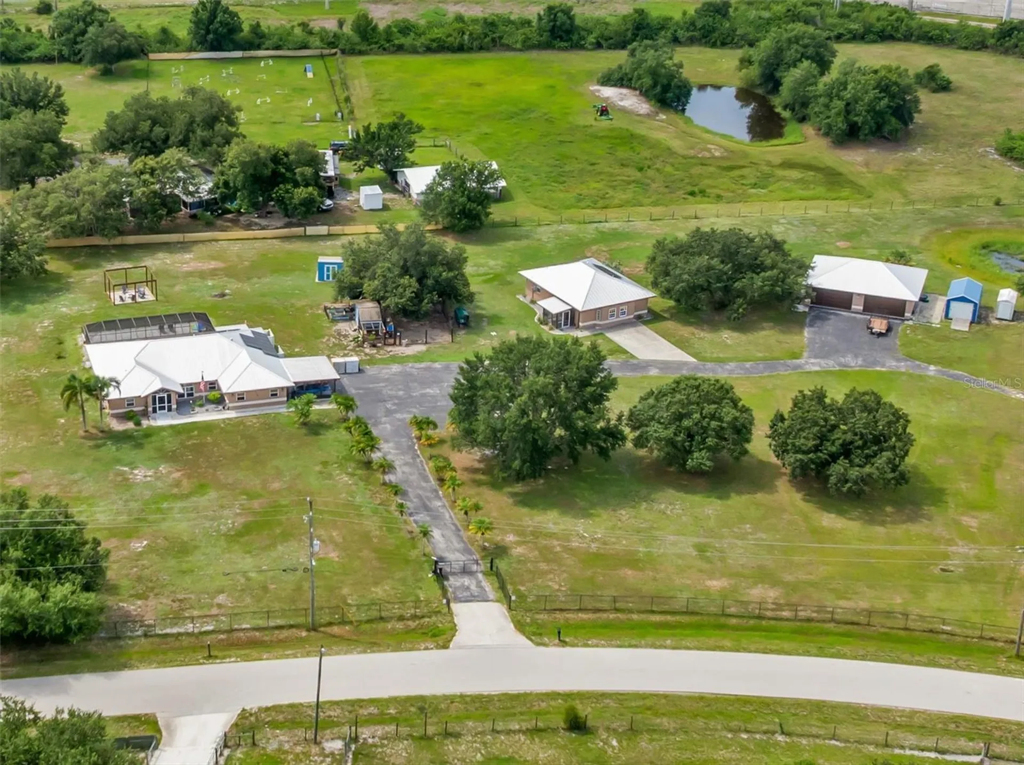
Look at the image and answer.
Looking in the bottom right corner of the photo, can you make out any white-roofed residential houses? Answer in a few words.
No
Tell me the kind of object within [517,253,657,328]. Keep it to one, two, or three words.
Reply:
house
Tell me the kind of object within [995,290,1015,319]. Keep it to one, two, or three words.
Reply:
shed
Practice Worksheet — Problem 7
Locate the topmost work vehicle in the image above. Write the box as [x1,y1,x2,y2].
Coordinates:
[589,103,615,121]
